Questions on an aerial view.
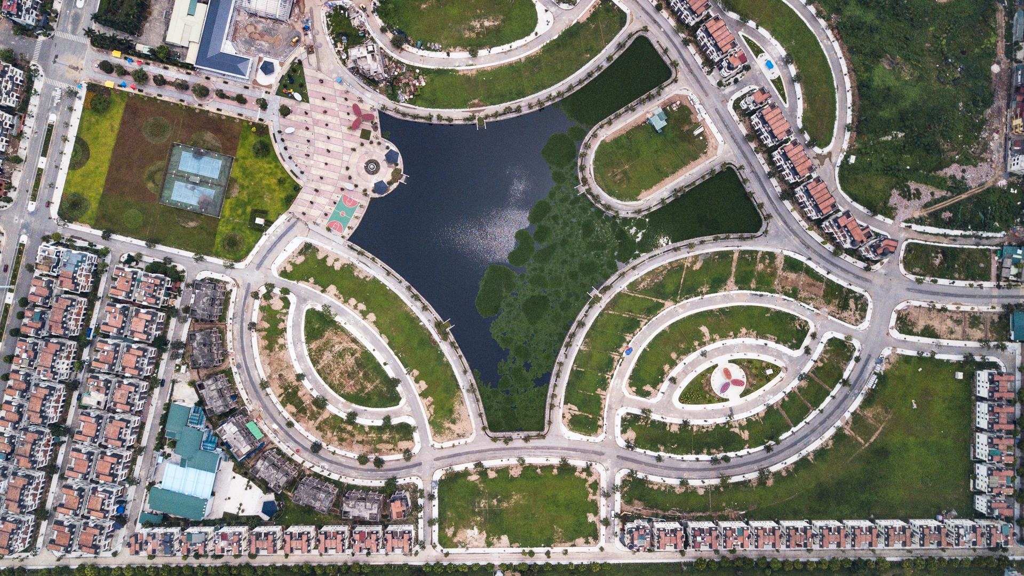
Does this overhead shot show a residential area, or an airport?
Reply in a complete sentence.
This looks like a residential area.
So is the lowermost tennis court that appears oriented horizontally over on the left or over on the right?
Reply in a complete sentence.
The lowermost tennis court that appears oriented horizontally sits on the left side.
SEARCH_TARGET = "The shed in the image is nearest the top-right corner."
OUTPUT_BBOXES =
[1007,10,1023,44]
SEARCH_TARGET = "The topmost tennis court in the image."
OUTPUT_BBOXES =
[178,151,222,179]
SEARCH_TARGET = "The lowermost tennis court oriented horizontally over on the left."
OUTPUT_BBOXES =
[170,182,215,208]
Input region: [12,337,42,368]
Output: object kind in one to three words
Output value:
house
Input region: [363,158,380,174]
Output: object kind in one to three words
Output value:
fountain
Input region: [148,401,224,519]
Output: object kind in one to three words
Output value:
building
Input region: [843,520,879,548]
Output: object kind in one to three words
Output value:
house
